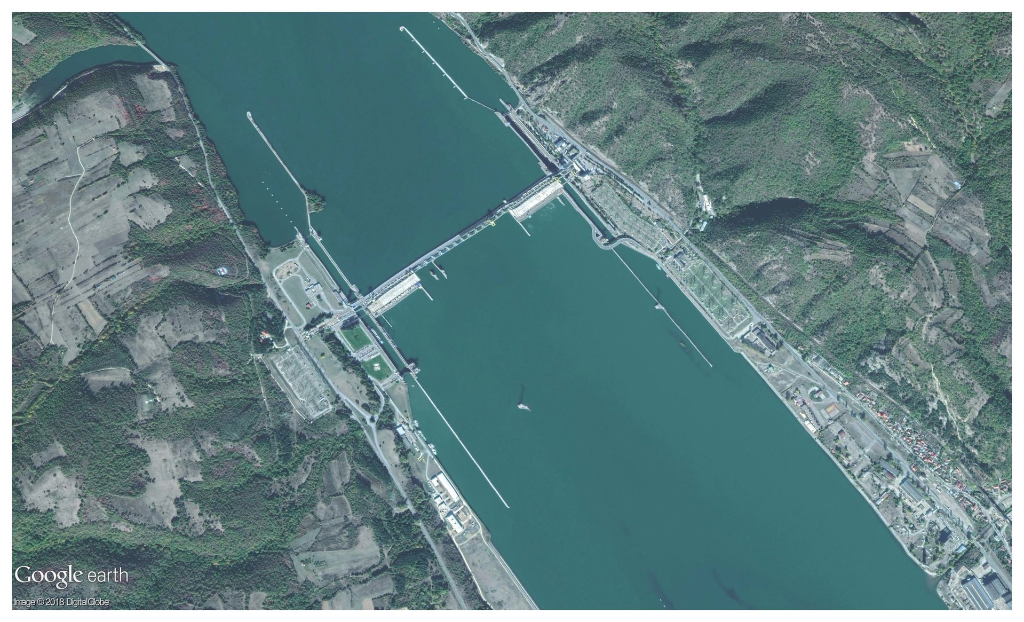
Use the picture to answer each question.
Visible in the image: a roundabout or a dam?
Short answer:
dam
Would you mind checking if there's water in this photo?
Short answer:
Yes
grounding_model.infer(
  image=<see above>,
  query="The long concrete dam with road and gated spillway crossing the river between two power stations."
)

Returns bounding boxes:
[308,158,580,336]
